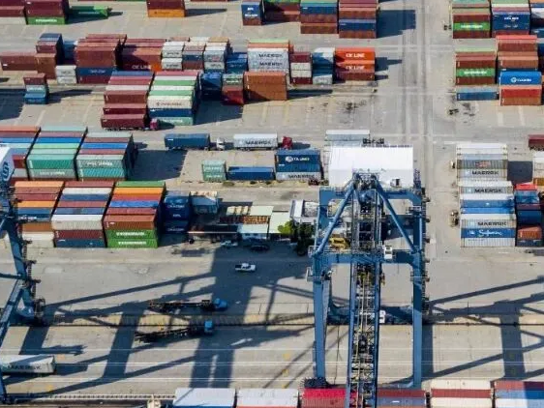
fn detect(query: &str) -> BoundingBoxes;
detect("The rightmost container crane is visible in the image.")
[297,141,436,408]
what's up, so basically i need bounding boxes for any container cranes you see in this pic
[297,141,436,408]
[0,142,48,401]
